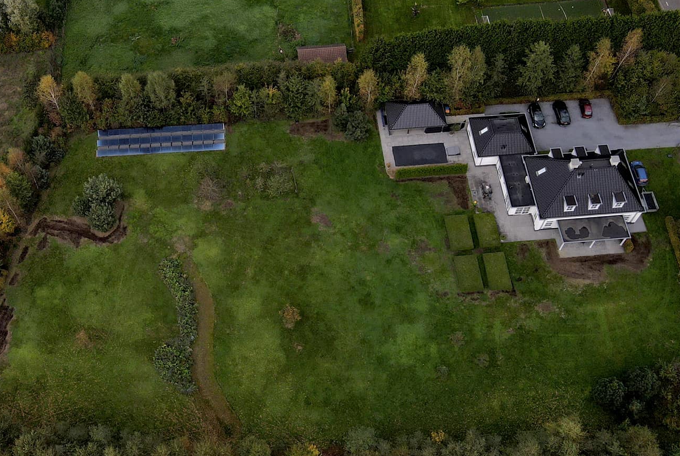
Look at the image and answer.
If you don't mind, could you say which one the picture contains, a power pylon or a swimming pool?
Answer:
swimming pool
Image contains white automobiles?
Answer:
No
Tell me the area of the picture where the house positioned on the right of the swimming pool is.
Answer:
right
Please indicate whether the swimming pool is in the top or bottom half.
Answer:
top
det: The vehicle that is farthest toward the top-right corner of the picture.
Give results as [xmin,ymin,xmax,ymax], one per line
[578,99,595,119]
